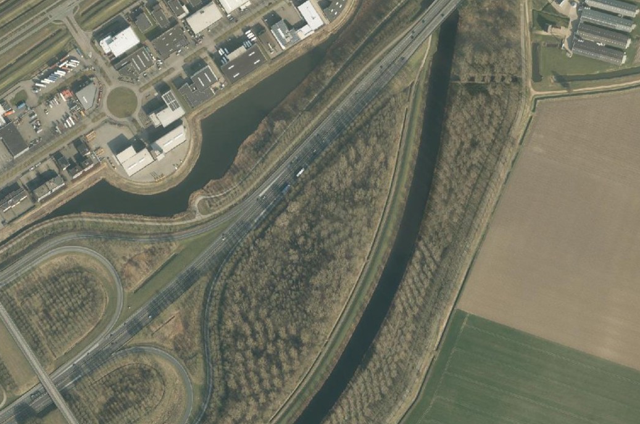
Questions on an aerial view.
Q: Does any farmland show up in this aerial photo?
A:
Yes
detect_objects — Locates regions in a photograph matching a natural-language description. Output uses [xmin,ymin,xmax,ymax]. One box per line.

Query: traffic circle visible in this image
[101,81,142,123]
